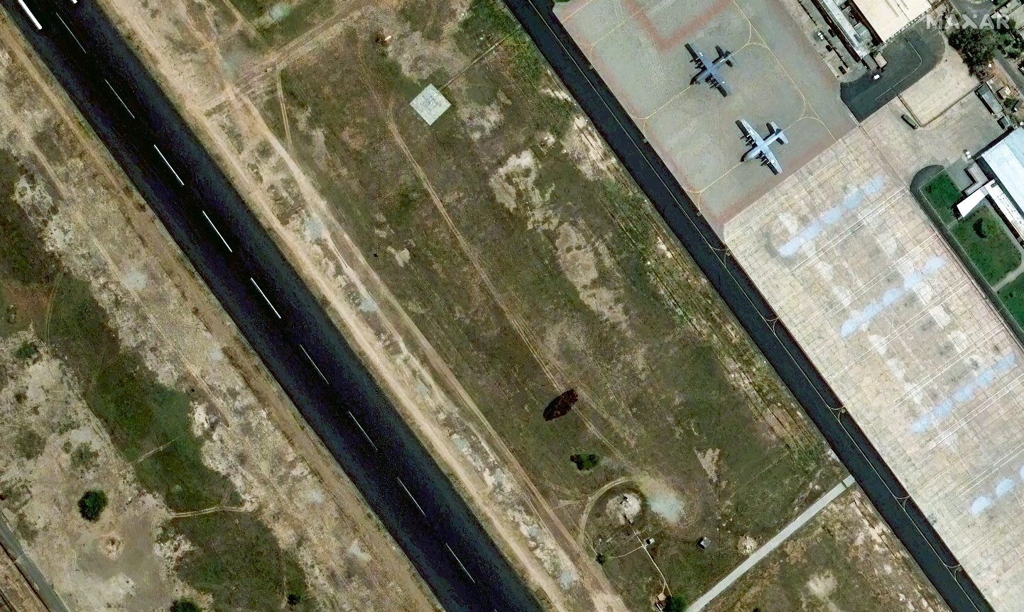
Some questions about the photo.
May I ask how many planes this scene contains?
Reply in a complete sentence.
My tally gives 2 planes in this view.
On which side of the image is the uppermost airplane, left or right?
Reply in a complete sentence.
The uppermost airplane sits on the right side.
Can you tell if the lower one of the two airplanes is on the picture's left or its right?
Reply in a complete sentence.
The lower one of the two airplanes appears in the right half of the scene.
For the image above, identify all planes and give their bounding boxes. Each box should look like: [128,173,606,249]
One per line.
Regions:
[741,119,790,173]
[690,42,740,96]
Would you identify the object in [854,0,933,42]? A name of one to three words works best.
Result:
hangar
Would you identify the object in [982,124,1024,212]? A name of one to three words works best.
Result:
building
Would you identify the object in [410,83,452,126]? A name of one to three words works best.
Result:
helipad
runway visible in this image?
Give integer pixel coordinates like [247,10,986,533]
[0,0,547,612]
